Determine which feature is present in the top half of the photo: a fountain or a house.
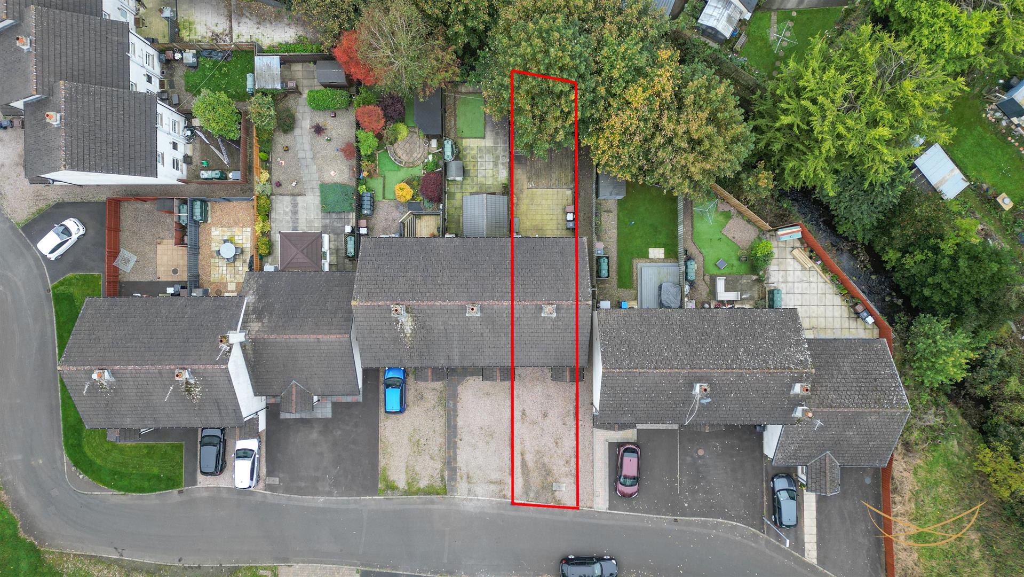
house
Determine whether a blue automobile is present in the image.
Yes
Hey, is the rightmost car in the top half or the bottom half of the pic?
bottom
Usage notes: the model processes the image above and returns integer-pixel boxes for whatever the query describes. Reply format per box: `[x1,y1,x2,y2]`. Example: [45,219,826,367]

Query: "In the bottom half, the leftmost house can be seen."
[57,295,268,442]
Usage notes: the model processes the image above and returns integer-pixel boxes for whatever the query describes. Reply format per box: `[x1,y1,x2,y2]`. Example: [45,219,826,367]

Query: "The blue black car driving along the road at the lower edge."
[560,553,616,577]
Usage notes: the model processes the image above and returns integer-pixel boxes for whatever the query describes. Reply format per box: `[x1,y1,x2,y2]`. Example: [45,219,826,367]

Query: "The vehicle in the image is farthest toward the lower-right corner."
[768,472,798,527]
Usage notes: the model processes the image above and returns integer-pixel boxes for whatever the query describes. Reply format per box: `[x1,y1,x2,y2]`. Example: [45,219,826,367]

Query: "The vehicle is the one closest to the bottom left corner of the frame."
[197,430,228,477]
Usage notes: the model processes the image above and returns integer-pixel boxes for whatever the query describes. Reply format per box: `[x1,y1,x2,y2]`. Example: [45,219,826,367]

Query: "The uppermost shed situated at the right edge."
[987,82,1024,129]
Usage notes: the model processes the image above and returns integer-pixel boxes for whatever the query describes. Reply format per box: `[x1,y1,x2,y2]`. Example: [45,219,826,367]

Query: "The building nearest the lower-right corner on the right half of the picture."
[763,337,910,495]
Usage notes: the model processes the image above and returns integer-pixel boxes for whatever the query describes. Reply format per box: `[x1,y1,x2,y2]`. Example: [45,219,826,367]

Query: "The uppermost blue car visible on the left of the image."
[382,369,407,414]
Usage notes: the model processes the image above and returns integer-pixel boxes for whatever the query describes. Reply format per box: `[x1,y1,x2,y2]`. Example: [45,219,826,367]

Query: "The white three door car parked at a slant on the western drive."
[35,218,92,261]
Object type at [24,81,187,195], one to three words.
house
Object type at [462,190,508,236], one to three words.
shed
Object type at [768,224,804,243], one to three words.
shed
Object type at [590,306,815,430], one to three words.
house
